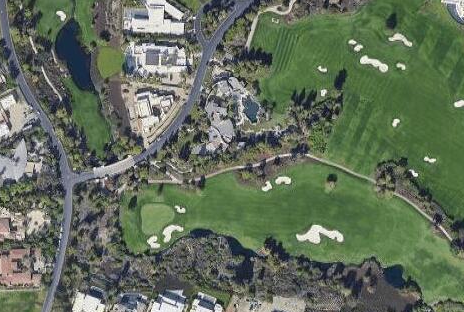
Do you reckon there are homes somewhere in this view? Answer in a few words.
Yes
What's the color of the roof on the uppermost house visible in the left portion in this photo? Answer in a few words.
white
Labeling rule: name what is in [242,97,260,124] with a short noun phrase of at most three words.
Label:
swimming pool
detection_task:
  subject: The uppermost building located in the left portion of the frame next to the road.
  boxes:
[130,0,185,35]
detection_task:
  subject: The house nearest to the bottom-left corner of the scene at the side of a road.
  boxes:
[0,246,42,290]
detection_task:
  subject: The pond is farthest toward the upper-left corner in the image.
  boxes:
[55,18,93,92]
